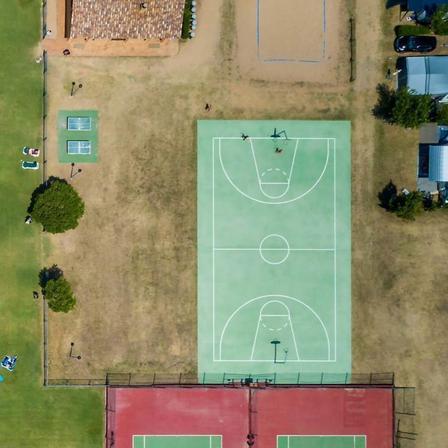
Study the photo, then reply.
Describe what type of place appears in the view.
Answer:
sports ground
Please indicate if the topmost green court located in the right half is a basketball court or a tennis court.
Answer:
basketball court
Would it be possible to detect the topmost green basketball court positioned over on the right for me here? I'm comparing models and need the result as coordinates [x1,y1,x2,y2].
[197,121,351,383]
